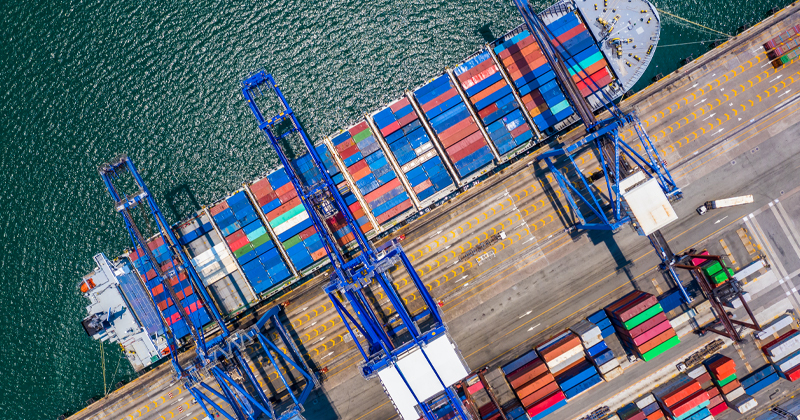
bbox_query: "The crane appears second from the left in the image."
[234,66,475,420]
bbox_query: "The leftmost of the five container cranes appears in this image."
[86,151,329,420]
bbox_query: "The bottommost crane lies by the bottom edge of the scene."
[458,370,508,420]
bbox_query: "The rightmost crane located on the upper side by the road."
[516,0,694,306]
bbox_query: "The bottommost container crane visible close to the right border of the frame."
[671,249,767,345]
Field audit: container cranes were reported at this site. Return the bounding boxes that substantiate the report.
[234,66,475,420]
[458,370,508,420]
[516,0,694,306]
[86,151,329,420]
[671,249,767,345]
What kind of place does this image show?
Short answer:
port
